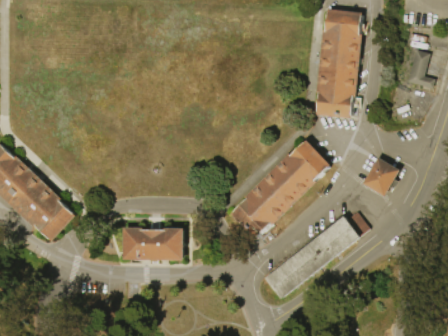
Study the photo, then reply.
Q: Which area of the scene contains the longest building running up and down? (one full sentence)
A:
The longest building running up and down is located in the top right region of the scene.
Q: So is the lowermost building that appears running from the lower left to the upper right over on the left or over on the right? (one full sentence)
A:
The lowermost building that appears running from the lower left to the upper right is on the right side of the image.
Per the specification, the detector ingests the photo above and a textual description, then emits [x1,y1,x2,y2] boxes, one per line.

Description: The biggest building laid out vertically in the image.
[314,10,366,118]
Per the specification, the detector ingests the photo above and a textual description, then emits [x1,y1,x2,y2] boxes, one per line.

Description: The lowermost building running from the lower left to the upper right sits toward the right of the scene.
[266,217,360,299]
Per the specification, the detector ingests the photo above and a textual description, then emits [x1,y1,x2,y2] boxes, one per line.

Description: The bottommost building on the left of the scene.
[123,228,186,264]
